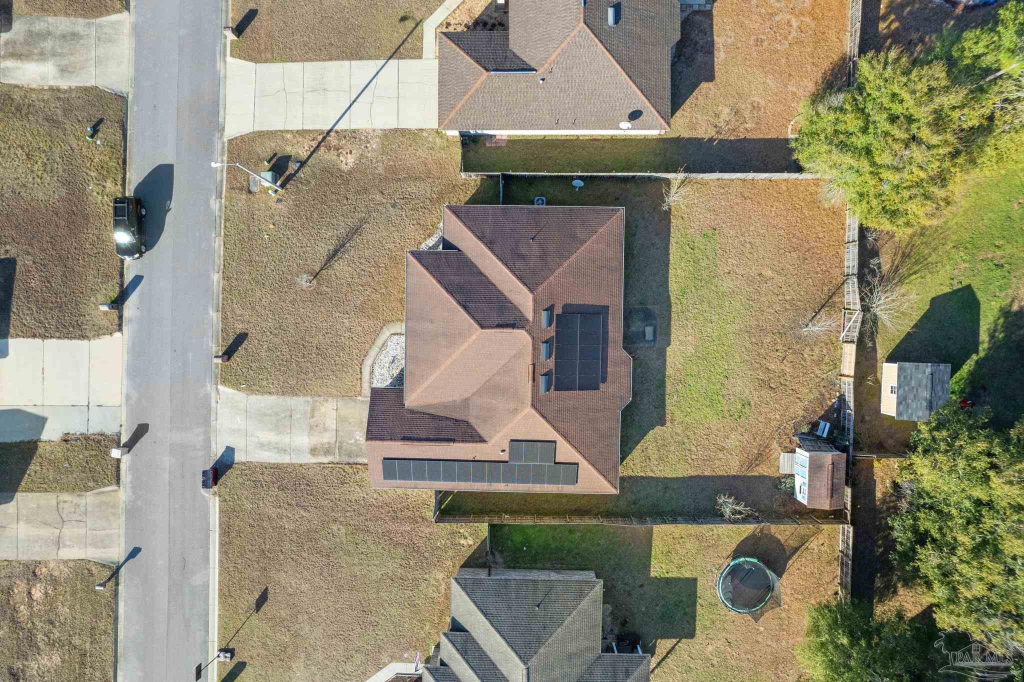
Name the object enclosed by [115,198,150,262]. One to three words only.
car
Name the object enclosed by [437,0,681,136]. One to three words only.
house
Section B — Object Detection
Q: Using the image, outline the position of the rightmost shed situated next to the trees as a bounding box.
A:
[882,363,951,421]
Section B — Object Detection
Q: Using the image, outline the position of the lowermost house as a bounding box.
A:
[421,571,652,682]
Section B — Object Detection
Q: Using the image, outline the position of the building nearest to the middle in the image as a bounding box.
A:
[366,204,633,494]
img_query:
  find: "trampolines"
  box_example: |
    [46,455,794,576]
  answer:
[714,550,786,626]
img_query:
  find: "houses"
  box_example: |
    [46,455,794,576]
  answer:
[366,204,633,494]
[421,571,652,682]
[437,0,681,136]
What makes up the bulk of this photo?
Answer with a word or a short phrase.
grass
